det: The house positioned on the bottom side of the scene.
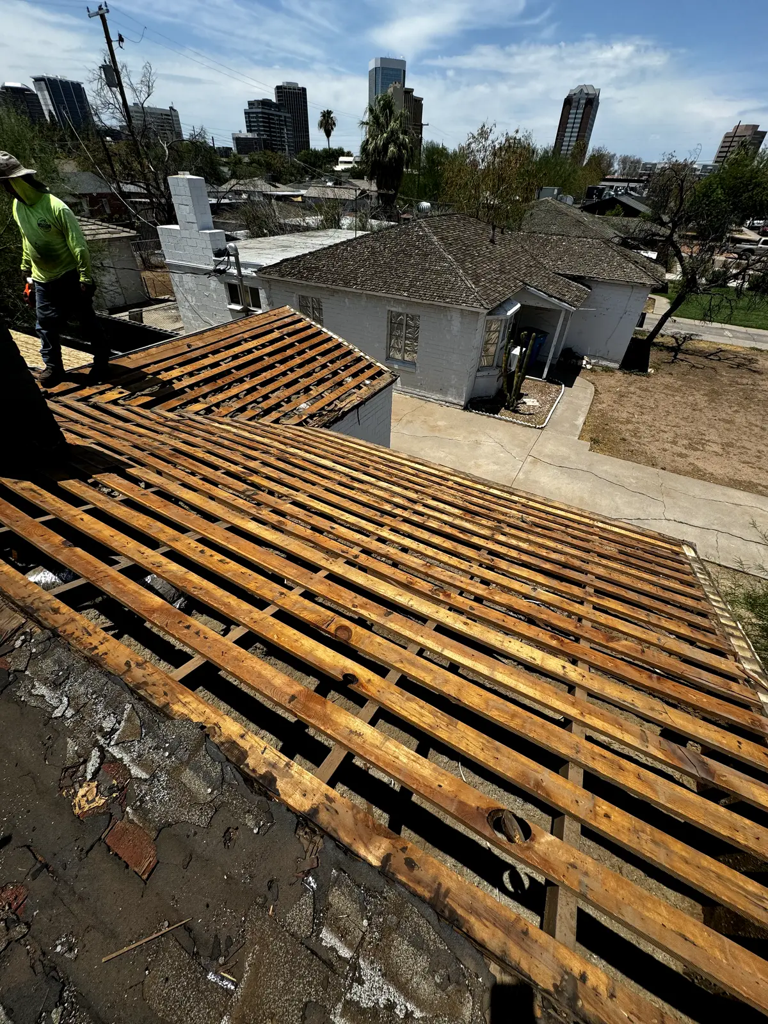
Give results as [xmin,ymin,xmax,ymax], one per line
[0,304,768,1024]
